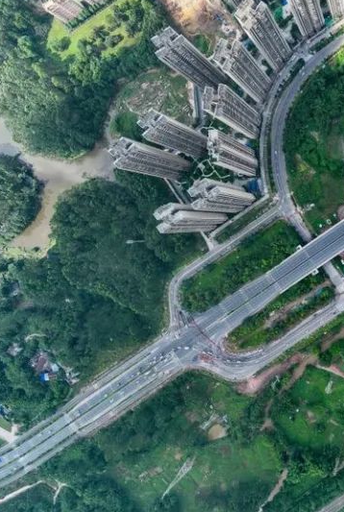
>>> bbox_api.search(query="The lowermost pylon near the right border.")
[327,461,344,482]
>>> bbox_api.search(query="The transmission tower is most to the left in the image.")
[156,455,195,499]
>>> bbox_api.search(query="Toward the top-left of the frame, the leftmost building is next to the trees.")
[42,0,87,23]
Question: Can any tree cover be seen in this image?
Yes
